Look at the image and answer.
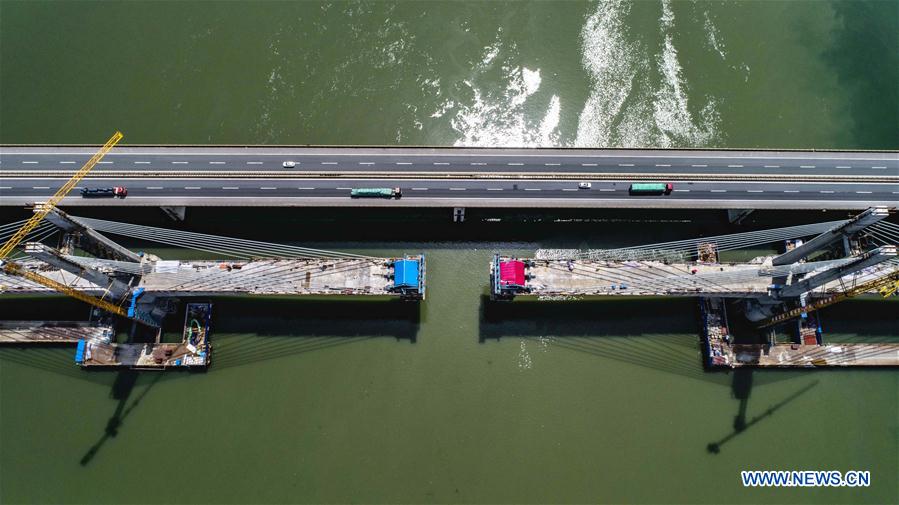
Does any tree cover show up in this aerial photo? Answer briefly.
No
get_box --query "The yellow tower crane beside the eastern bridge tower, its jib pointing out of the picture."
[756,264,899,330]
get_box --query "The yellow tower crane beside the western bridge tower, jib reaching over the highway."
[0,131,157,328]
